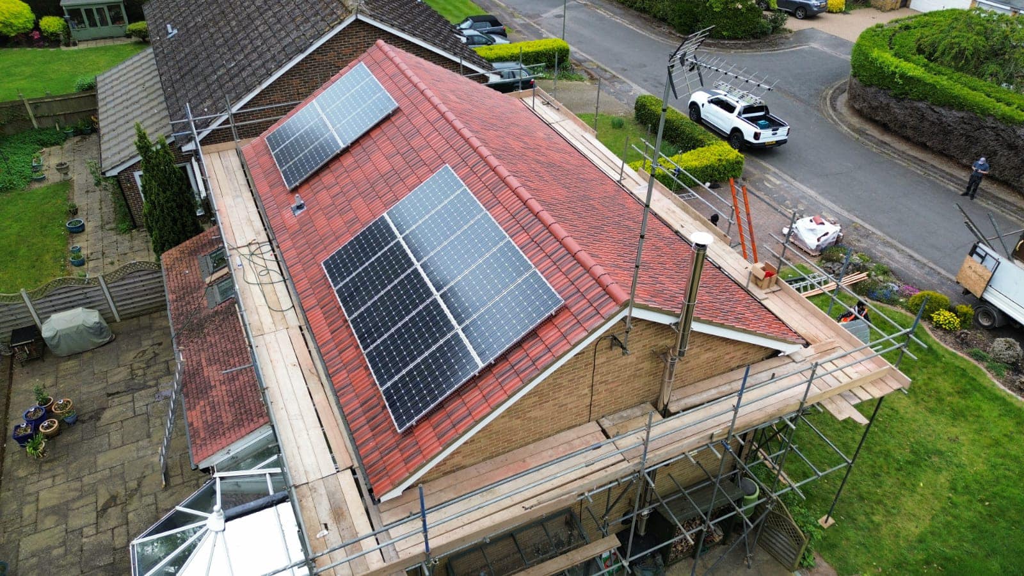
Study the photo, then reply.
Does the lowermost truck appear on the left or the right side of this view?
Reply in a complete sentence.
The lowermost truck sits on the right side.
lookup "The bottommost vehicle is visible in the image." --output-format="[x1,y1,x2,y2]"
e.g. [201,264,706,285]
[953,234,1024,324]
